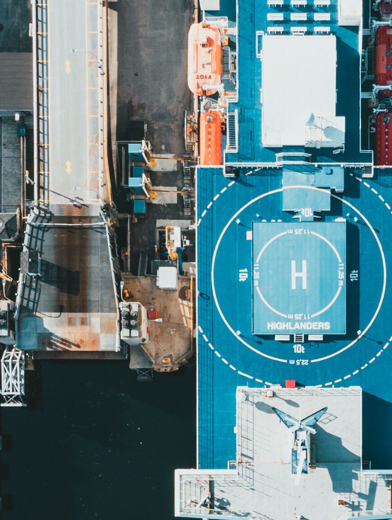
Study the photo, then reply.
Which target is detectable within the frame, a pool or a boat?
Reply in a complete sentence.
The one in the frame is a boat.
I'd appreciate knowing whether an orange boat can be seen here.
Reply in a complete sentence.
Yes, you can see an orange boat in this photo.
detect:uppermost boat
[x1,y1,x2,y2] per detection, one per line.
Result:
[378,0,392,21]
